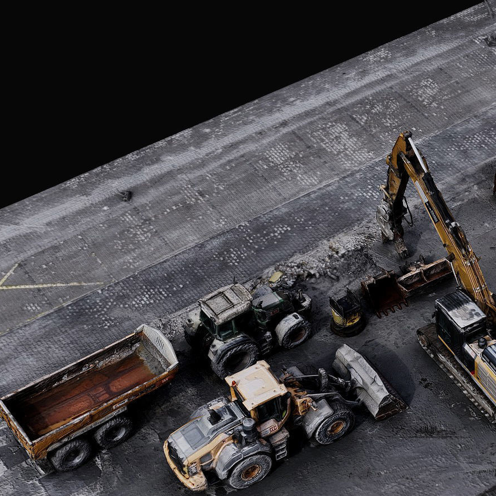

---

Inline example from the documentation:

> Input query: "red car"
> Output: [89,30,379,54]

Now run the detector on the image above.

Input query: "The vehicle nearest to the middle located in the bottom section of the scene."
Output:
[189,280,318,378]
